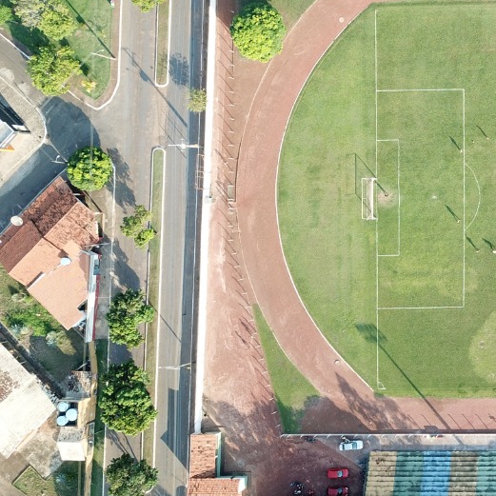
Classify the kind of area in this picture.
sports ground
